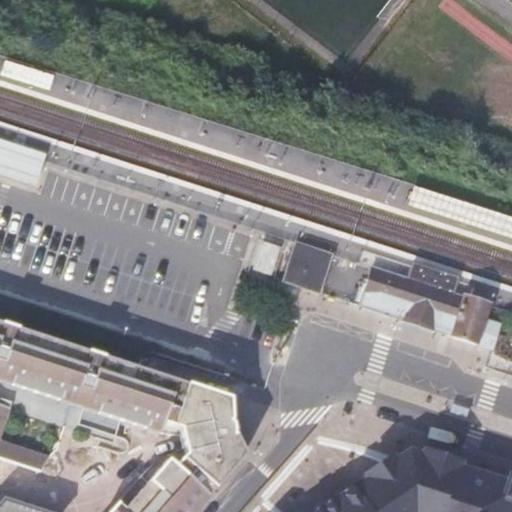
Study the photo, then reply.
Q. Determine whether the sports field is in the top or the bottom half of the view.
top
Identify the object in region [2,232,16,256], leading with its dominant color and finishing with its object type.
gray car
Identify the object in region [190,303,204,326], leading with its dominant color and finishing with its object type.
white car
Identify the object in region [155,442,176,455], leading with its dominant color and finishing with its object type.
white vehicle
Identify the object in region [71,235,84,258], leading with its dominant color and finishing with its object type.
gray vehicle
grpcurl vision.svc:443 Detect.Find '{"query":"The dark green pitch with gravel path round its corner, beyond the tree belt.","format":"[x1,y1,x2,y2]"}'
[248,0,410,66]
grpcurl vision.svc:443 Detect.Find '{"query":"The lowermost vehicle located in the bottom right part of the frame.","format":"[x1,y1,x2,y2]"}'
[426,426,457,444]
